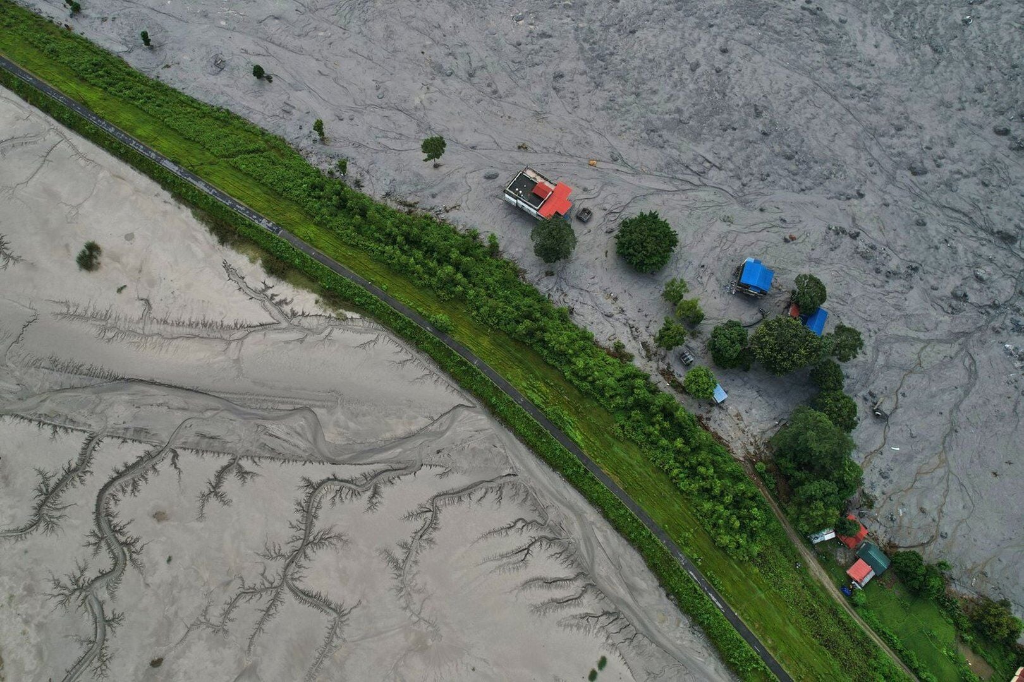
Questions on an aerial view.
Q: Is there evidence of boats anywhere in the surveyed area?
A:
No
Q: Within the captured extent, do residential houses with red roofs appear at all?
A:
Yes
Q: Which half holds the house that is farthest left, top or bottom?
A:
top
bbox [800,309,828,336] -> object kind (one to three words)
house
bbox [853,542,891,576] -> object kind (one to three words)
building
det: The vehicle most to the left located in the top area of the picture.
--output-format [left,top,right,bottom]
[577,208,591,223]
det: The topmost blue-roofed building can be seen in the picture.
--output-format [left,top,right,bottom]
[735,257,773,298]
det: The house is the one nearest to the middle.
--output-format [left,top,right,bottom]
[505,167,572,223]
